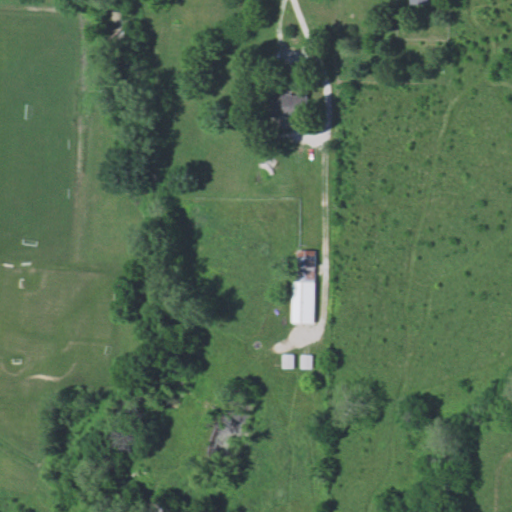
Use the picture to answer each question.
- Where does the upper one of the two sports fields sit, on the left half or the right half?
left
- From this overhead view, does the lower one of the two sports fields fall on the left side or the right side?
left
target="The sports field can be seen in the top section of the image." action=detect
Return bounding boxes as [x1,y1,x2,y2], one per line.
[0,7,81,262]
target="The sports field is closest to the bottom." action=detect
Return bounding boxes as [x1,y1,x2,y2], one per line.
[0,272,112,392]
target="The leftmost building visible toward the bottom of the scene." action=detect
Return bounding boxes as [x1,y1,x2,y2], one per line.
[212,418,244,452]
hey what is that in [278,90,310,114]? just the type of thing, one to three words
house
